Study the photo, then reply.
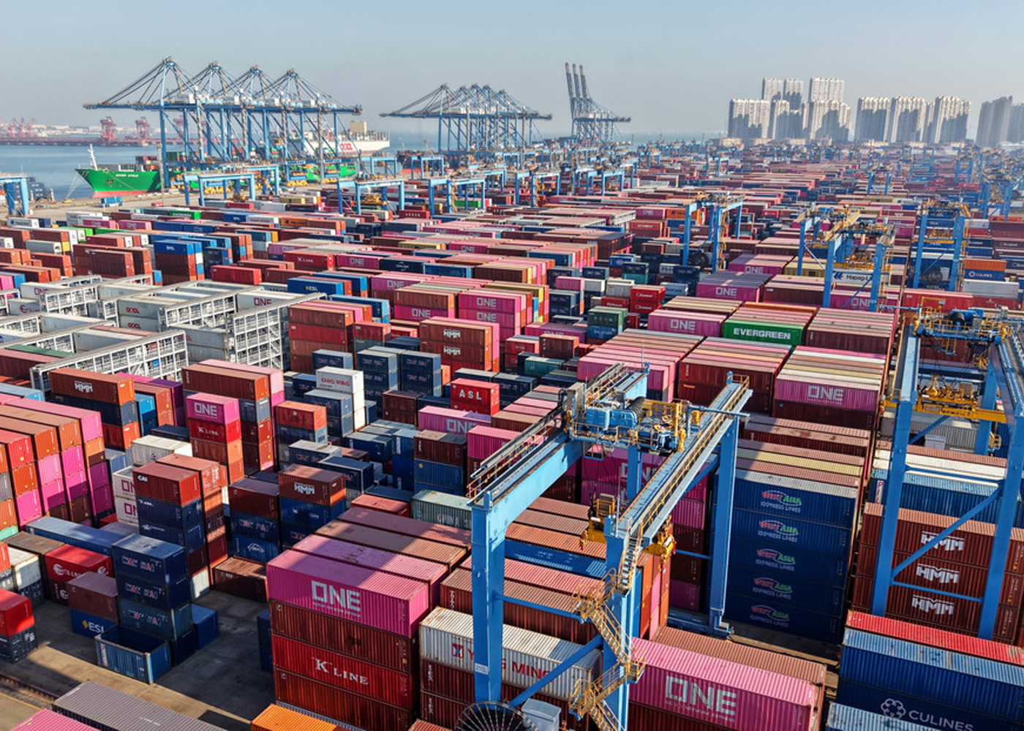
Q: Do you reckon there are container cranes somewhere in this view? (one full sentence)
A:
Yes, you can see a container crane in this photo.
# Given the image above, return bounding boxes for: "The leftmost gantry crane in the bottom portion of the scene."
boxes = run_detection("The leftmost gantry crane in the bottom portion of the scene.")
[450,334,769,731]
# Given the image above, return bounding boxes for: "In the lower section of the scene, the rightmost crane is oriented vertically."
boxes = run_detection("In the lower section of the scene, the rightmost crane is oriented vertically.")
[869,298,1024,633]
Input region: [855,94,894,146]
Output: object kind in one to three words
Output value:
building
